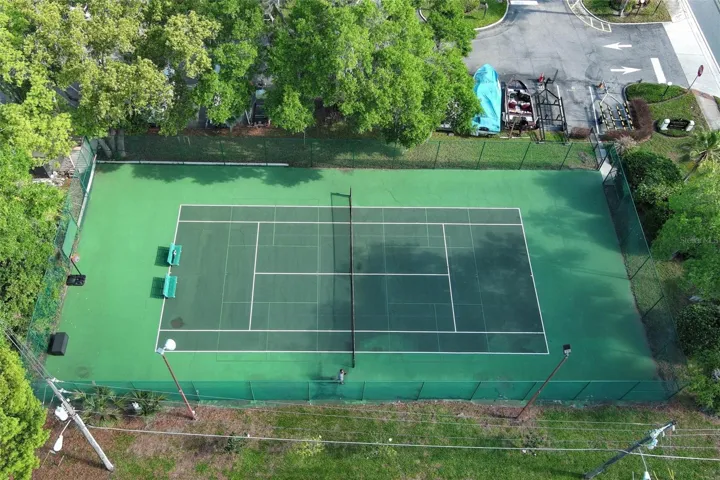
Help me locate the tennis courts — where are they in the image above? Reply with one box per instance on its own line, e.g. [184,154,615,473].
[49,163,662,384]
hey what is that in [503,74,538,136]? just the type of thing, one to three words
boat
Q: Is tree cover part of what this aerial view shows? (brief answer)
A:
Yes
